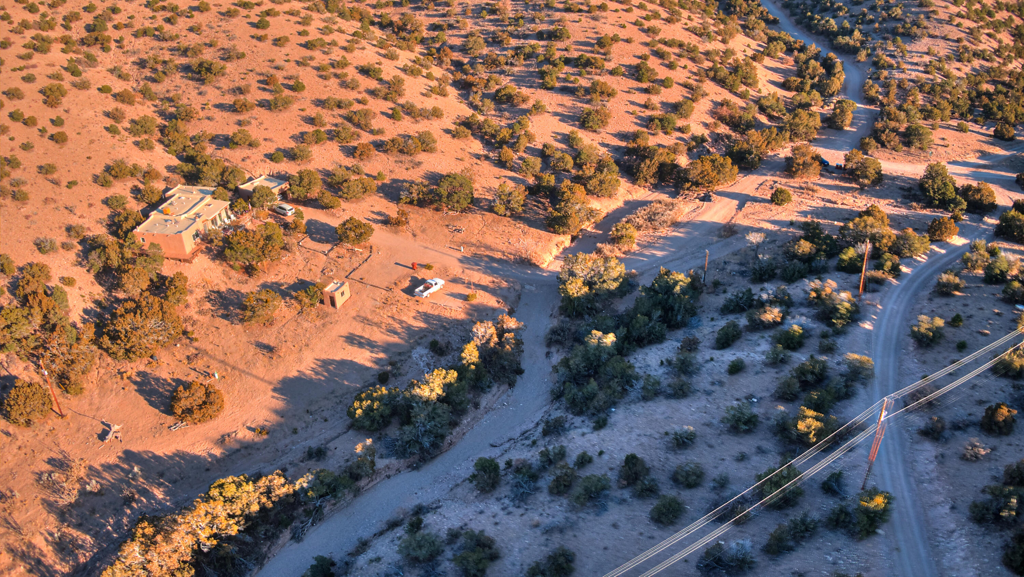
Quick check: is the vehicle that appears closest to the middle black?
No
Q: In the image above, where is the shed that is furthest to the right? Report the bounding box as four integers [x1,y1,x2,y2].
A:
[324,281,348,308]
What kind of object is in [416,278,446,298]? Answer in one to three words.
vehicle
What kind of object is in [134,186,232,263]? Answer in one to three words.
house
